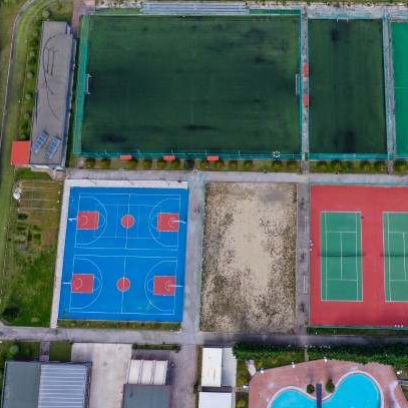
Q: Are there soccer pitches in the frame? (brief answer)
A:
Yes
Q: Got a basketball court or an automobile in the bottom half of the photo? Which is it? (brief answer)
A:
basketball court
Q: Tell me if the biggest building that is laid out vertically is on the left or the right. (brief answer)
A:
left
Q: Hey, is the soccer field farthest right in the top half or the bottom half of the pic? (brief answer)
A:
top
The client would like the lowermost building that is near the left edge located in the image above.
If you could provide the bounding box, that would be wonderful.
[1,359,97,408]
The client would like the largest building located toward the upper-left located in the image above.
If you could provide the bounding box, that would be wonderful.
[11,21,77,172]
